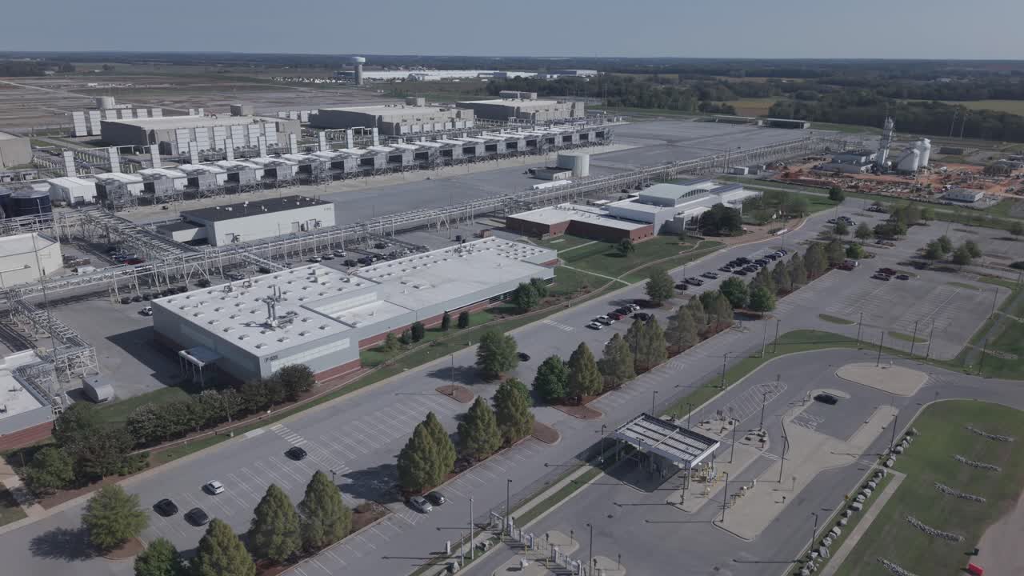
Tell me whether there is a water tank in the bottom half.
No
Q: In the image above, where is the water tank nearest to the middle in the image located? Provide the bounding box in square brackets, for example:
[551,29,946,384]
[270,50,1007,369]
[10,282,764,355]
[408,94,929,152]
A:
[561,150,587,176]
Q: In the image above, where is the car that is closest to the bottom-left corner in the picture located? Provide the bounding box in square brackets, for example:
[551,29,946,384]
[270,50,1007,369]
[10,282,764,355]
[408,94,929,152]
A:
[156,500,178,516]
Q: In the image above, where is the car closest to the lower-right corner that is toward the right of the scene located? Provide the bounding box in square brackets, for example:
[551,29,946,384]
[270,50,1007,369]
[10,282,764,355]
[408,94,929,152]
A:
[814,391,838,404]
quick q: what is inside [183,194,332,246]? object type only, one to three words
building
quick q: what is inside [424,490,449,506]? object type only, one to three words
car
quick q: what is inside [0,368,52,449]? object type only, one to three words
building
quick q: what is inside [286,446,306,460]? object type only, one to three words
car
